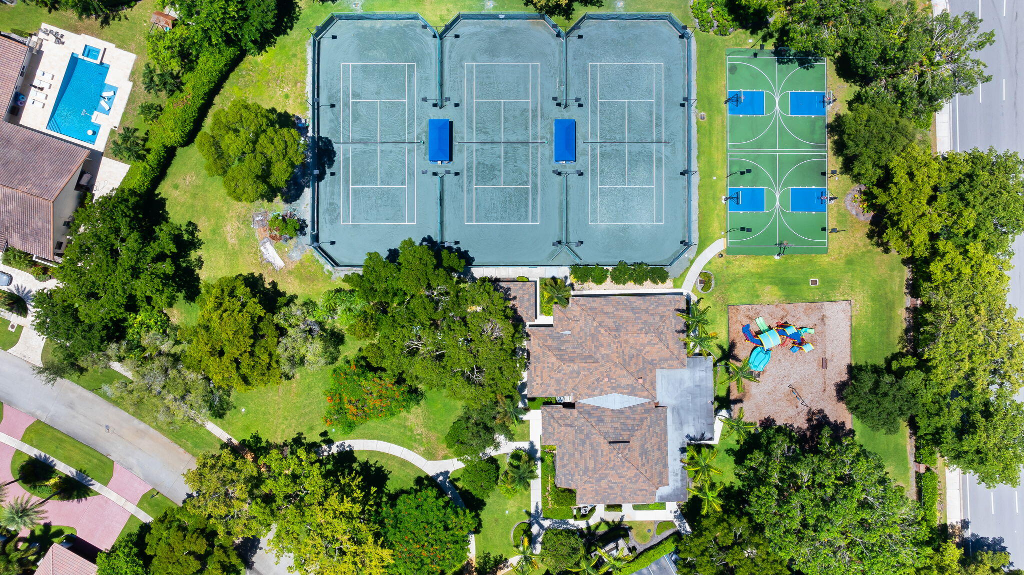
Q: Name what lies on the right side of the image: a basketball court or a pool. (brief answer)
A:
basketball court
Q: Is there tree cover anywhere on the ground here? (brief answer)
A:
Yes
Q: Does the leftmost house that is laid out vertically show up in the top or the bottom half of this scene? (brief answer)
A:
top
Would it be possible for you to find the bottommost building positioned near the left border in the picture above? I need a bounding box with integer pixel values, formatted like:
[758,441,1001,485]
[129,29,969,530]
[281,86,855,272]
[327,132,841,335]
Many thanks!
[37,541,104,575]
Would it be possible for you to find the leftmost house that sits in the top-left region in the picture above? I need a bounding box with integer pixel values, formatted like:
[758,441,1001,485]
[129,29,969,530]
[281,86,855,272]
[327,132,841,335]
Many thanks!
[0,35,95,269]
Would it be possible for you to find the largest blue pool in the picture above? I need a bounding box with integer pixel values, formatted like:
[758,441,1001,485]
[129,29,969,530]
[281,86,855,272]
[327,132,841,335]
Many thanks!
[46,52,118,144]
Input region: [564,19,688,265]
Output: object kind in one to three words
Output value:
tennis court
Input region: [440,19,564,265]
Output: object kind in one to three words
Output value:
tennis court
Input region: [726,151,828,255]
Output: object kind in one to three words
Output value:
basketball court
